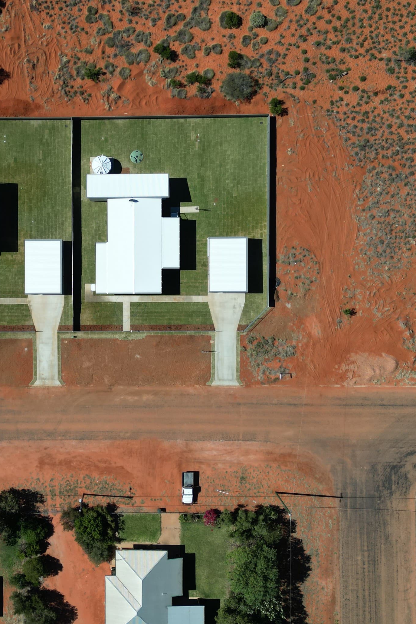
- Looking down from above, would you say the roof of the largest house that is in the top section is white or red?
white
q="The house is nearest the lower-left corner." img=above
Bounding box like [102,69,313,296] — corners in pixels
[105,546,204,624]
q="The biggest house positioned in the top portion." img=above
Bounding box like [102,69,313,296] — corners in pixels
[87,174,180,294]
